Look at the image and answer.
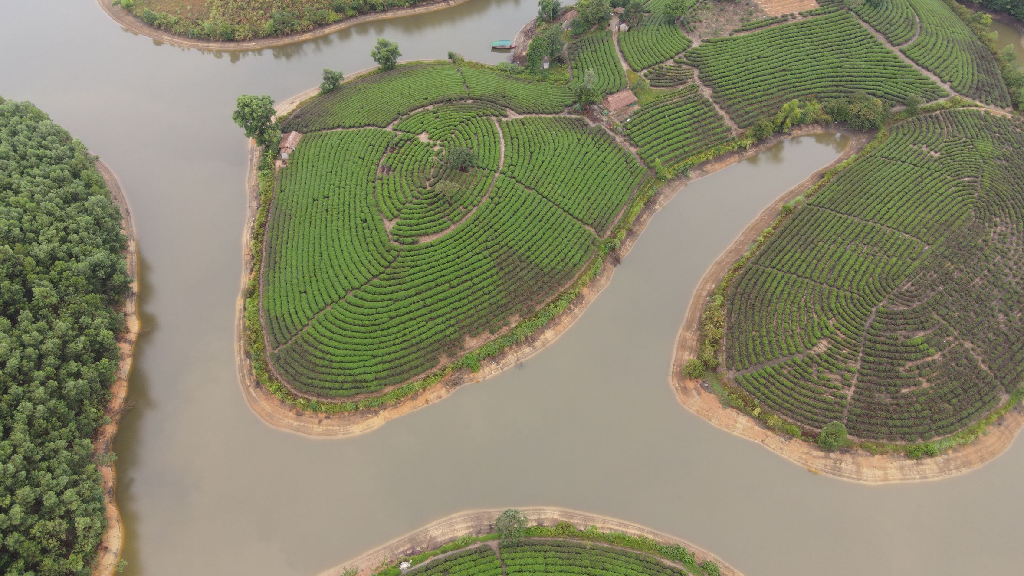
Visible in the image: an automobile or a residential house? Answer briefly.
residential house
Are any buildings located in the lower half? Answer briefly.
No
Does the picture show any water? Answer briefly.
Yes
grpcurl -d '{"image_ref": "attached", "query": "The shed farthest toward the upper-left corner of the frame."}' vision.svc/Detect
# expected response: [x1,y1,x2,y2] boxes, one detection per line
[276,130,303,159]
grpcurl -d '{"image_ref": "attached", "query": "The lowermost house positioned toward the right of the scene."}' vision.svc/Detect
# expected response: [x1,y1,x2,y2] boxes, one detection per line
[597,86,639,115]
